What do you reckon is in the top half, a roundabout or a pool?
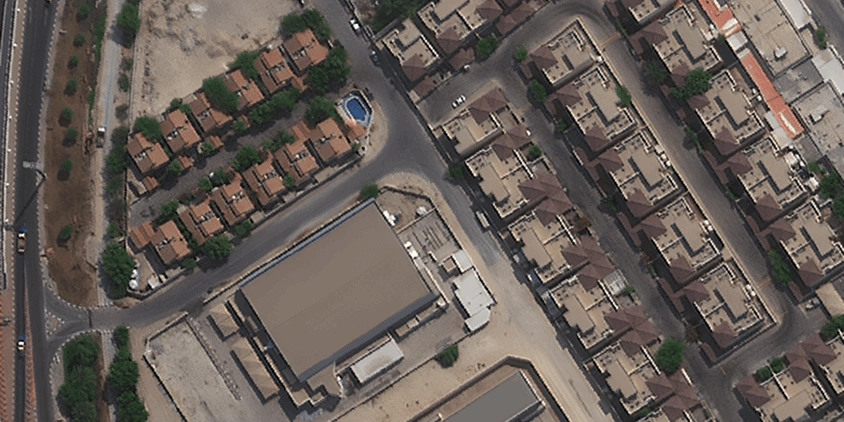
pool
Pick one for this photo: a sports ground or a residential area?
residential area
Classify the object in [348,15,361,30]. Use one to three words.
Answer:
vehicle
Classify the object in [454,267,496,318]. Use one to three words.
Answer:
shed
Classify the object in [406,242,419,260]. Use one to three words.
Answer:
vehicle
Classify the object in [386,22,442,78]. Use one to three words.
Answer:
house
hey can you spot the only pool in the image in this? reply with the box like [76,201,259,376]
[342,92,372,128]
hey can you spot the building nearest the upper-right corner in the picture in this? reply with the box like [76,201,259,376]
[781,0,814,31]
